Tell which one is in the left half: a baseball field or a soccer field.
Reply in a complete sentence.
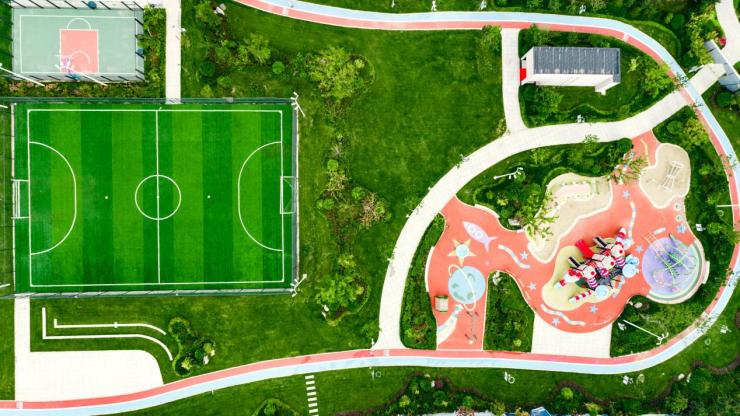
The feature located in the left half is a soccer field.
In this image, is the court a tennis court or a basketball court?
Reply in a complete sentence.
I'd identify the court as a basketball court.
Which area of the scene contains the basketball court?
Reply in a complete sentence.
You can find the basketball court in the top left area of the picture.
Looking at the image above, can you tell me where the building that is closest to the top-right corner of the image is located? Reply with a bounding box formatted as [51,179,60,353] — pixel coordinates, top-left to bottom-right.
[519,46,620,96]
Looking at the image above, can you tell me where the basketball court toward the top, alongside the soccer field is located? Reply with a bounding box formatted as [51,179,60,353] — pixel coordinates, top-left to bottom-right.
[11,5,145,84]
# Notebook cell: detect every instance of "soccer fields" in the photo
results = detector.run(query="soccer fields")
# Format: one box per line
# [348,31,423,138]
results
[13,103,298,294]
